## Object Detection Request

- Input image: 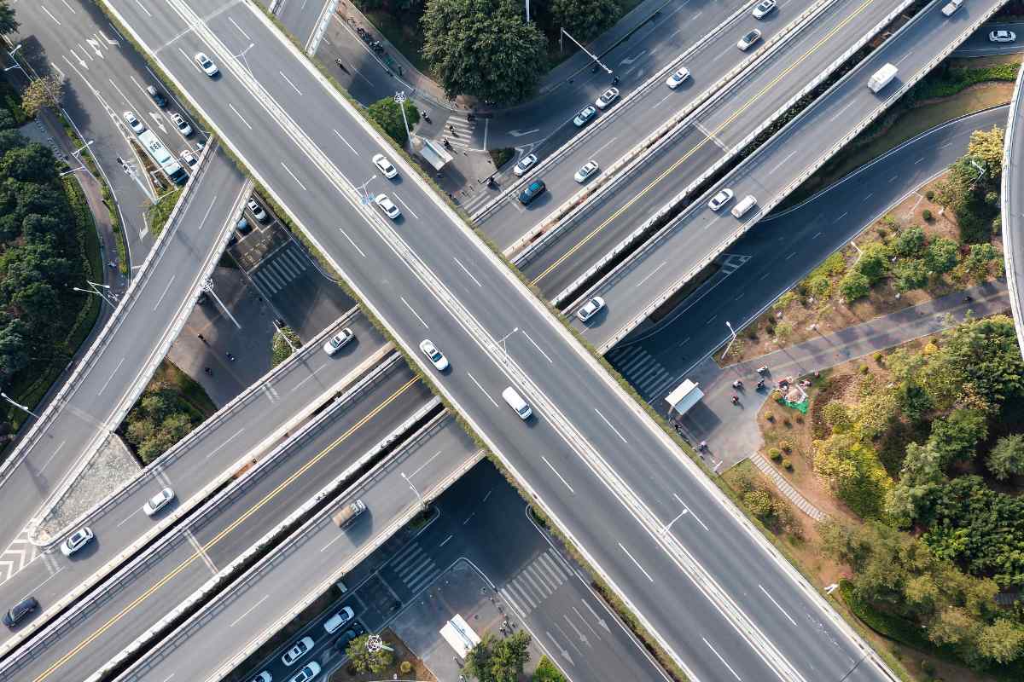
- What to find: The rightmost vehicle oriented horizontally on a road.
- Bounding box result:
[987,30,1015,43]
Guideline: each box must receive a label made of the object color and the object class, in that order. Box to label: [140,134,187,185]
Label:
white bus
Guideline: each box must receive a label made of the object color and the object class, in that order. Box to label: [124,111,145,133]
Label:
white car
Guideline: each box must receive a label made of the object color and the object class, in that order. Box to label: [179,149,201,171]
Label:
white car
